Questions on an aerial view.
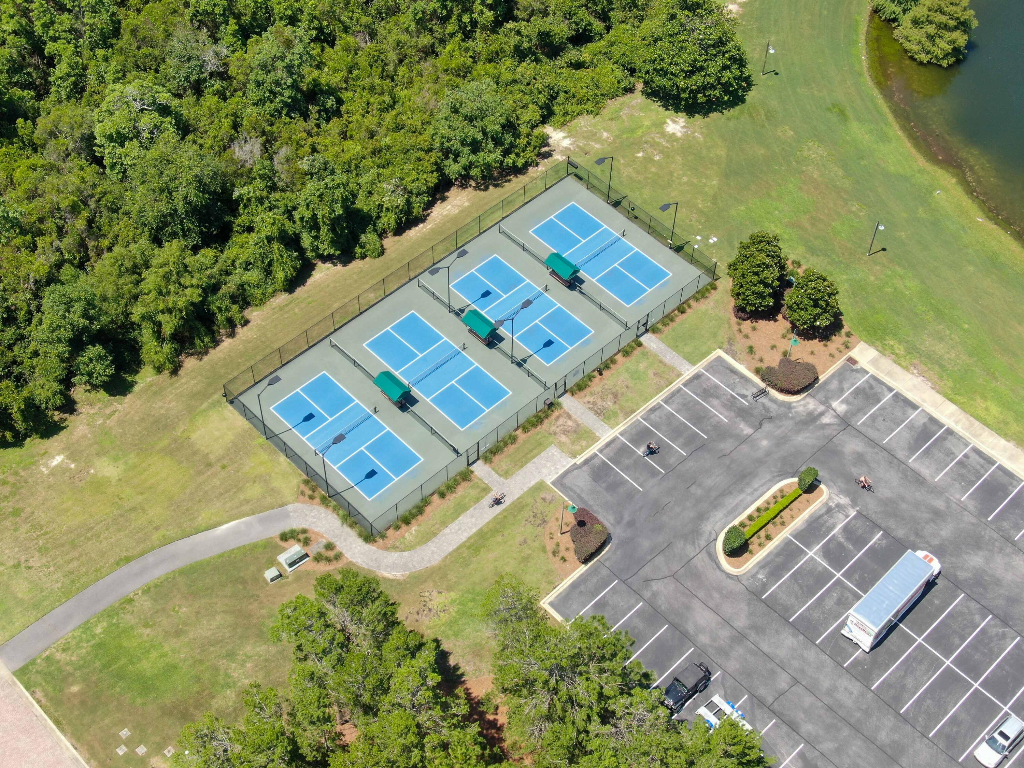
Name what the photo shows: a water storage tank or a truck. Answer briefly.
truck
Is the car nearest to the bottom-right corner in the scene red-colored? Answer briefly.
No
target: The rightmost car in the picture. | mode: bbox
[976,711,1024,766]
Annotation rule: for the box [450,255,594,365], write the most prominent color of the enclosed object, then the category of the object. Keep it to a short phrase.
blue sports court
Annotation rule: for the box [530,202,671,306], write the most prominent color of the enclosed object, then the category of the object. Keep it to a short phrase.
blue sports court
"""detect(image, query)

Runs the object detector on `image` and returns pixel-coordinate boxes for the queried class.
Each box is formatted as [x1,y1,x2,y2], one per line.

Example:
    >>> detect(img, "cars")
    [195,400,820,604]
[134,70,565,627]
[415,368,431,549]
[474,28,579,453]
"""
[976,711,1024,766]
[661,660,708,709]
